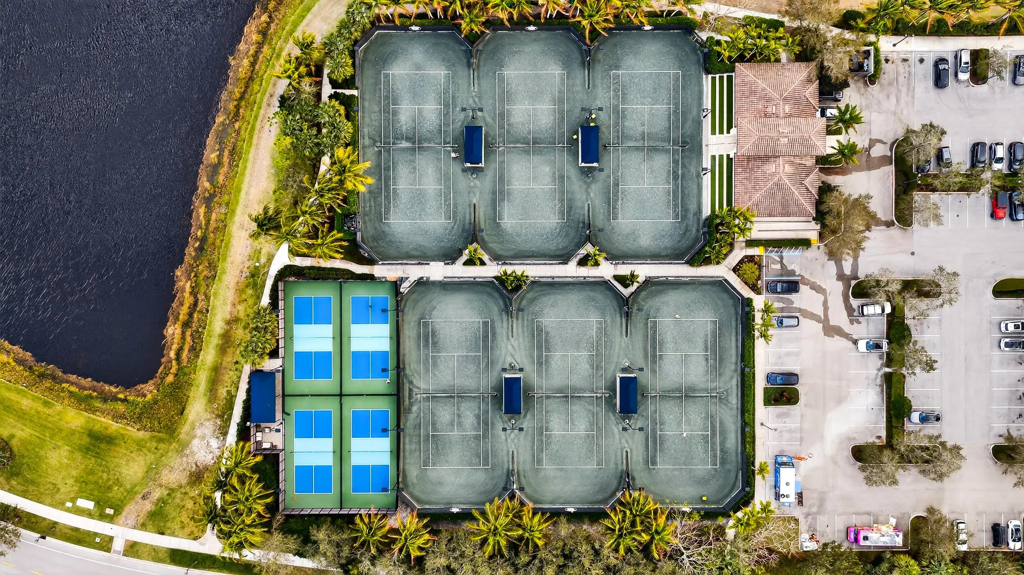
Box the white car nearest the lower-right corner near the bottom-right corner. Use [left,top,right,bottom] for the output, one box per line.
[1006,518,1023,549]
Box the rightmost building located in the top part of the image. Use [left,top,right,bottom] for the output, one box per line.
[732,62,828,217]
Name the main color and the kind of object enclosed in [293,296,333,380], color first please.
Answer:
blue sports court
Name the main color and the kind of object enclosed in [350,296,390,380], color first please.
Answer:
blue sports court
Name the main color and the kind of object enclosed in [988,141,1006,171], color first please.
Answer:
white car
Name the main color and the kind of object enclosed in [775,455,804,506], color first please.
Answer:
white truck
